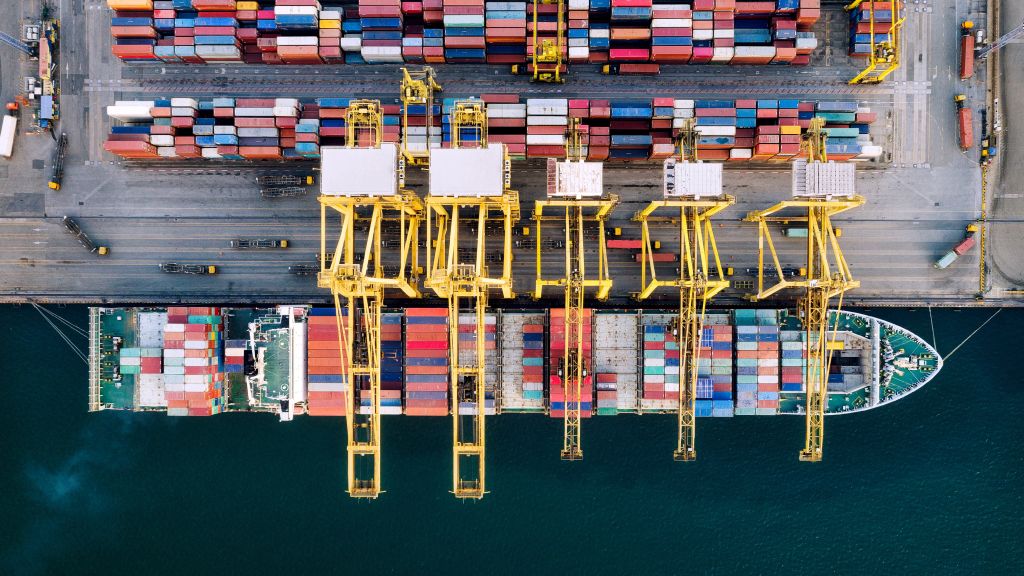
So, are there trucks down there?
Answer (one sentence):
Yes, I can see a truck in this picture.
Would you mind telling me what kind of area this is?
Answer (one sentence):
The picture captures a port.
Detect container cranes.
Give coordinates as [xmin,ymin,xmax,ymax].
[525,0,567,83]
[521,119,617,459]
[424,100,522,504]
[316,99,430,497]
[624,119,733,460]
[745,119,868,460]
[843,0,903,84]
[400,59,446,166]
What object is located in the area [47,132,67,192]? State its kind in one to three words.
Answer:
vehicle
